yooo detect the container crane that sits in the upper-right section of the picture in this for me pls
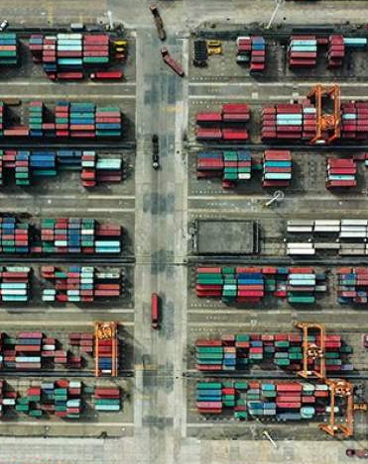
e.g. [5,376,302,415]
[301,85,340,148]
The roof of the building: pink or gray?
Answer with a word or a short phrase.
gray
